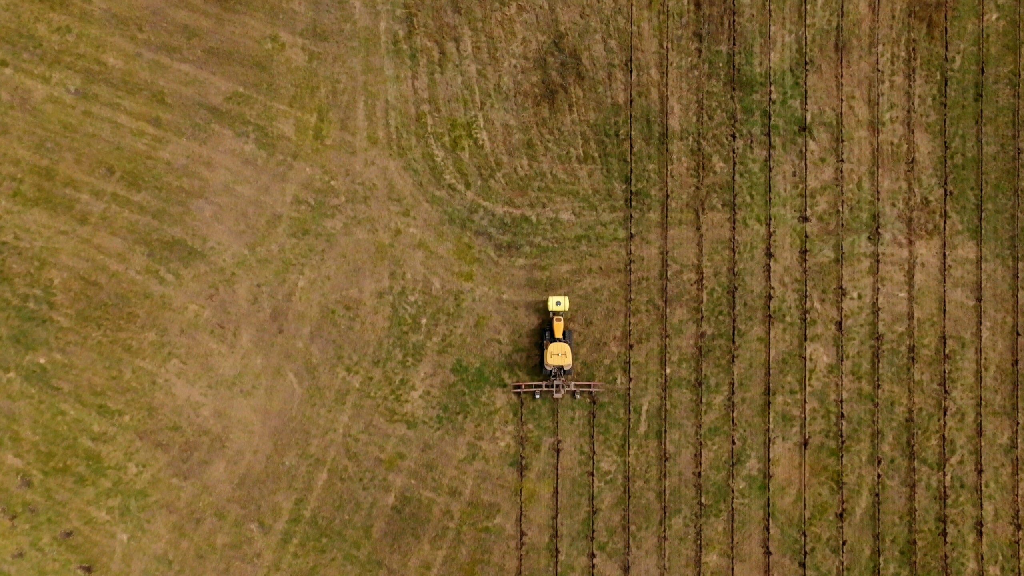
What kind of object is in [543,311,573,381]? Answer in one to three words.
work vehicle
